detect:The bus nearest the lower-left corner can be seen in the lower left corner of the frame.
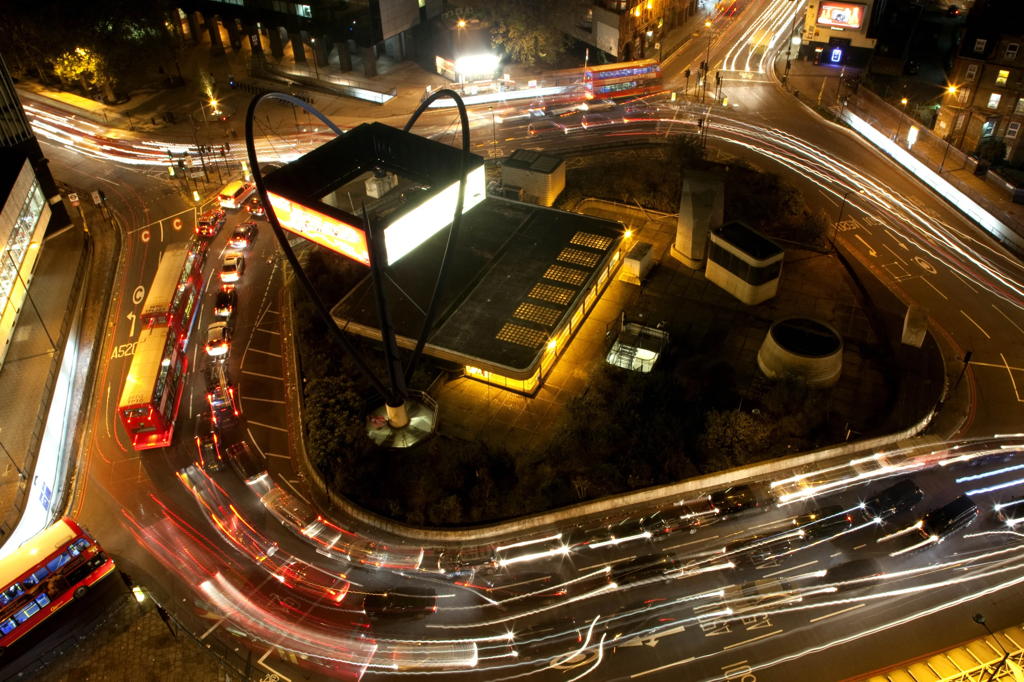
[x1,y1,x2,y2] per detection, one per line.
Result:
[0,521,110,665]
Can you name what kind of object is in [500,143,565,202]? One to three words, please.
building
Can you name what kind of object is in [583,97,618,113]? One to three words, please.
car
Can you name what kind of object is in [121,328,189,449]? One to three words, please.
bus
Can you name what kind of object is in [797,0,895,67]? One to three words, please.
building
